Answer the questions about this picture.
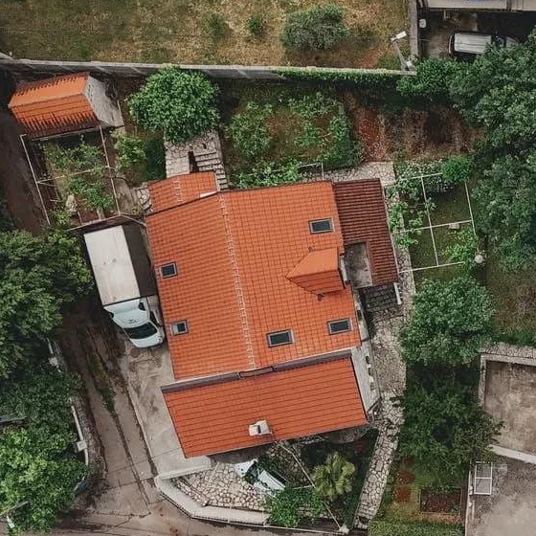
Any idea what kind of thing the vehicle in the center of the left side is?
truck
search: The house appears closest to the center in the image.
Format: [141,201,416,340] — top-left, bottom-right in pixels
[142,172,402,459]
